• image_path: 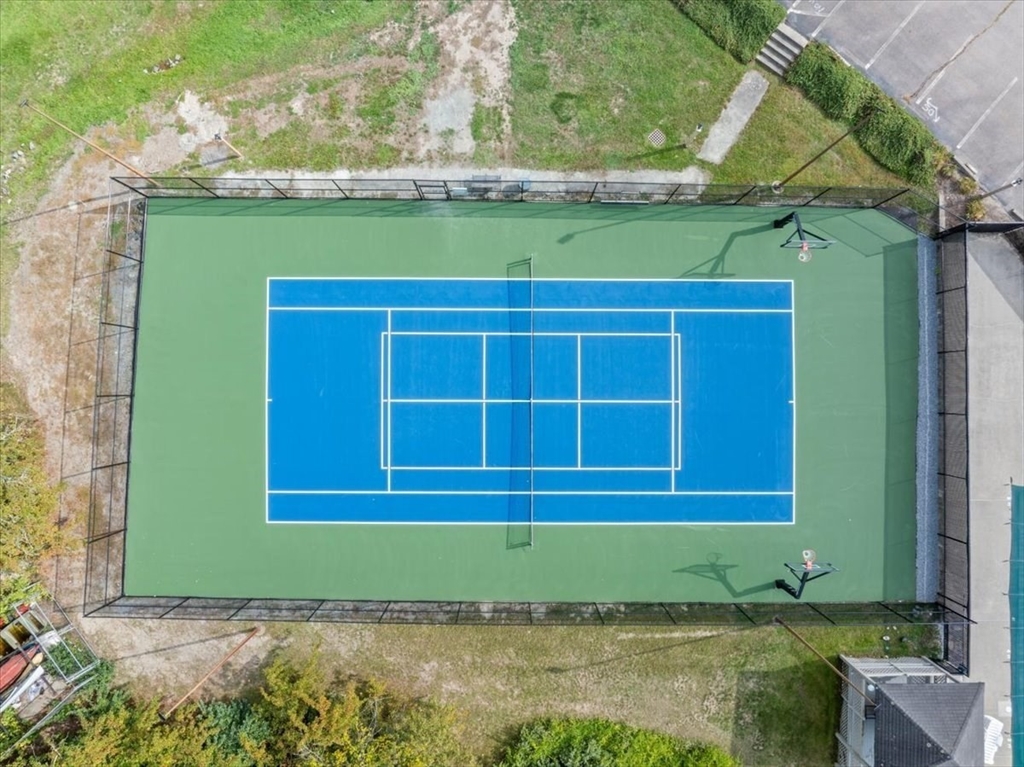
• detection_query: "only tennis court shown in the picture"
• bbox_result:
[124,198,918,602]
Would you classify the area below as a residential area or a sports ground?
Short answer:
sports ground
